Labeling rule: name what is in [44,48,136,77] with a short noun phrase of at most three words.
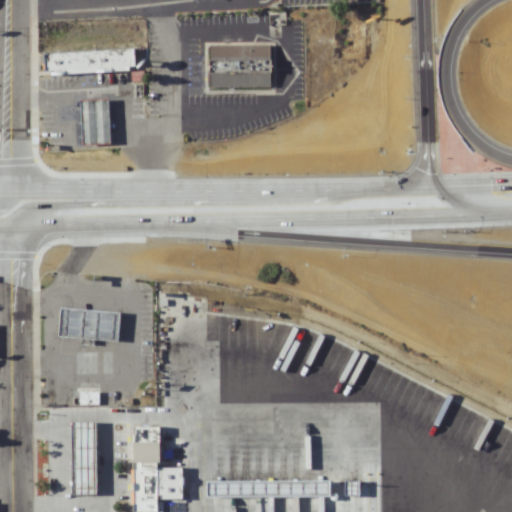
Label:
building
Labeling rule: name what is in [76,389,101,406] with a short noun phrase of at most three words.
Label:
building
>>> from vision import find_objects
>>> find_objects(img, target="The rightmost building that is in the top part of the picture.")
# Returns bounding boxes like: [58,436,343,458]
[210,44,272,89]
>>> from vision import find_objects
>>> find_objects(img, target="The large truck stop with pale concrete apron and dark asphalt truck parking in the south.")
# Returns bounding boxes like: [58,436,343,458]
[38,292,512,512]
